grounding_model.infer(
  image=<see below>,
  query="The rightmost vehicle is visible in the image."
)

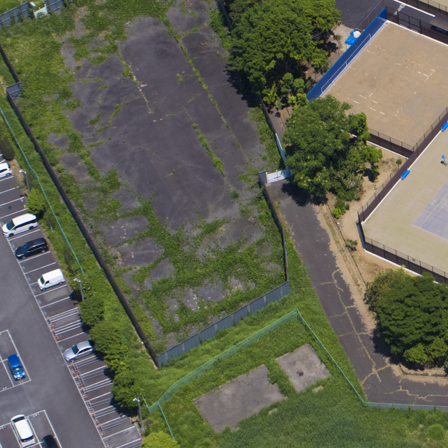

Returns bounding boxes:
[63,340,97,362]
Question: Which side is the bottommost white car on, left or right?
left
